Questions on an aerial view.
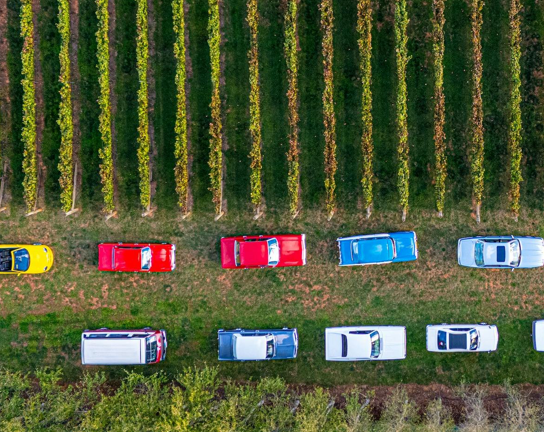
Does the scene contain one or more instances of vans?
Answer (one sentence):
Yes, a van can be made out from above.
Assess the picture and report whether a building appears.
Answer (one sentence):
No, there is no building in the image.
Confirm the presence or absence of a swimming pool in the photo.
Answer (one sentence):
No, no swimming pool is visible in the scene.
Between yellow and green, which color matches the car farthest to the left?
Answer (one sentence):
The car farthest to the left is yellow.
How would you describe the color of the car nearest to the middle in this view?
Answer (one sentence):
In this view, the car nearest to the middle is red.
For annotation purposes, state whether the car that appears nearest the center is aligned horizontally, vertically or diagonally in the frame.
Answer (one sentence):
The car that appears nearest the center has been laid out horizontally relative to the frame.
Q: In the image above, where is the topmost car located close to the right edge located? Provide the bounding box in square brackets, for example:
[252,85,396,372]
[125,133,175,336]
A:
[458,234,544,272]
